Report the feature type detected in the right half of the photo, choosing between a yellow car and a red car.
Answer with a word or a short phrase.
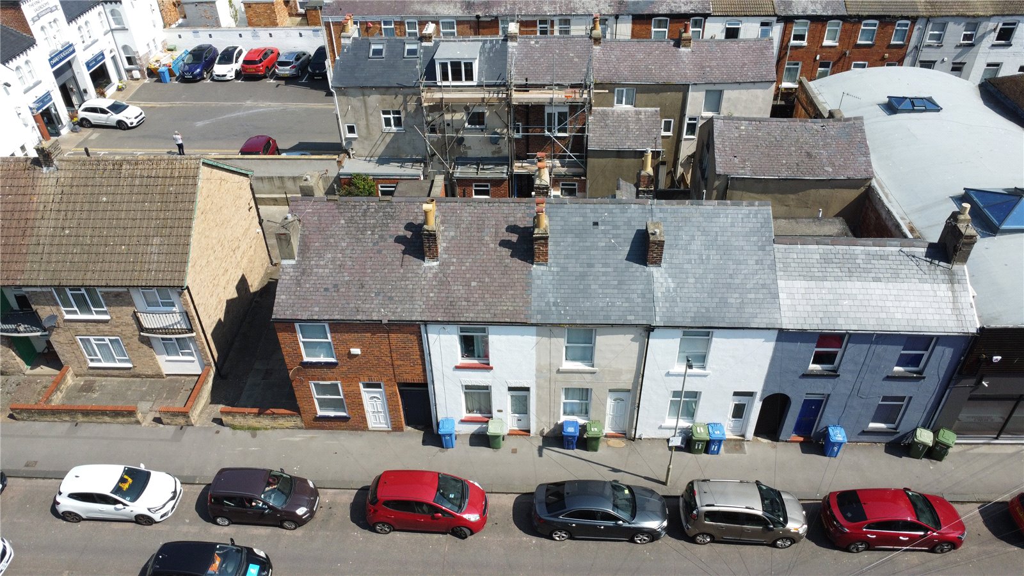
red car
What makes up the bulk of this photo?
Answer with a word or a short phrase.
buildings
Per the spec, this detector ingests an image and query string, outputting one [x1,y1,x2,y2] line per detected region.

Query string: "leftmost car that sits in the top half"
[76,97,144,130]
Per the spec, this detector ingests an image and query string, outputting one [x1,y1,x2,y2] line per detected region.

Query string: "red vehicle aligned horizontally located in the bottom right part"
[824,484,977,554]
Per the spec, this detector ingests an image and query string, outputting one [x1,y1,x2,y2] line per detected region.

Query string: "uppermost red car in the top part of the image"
[244,48,281,77]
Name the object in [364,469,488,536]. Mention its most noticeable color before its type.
red car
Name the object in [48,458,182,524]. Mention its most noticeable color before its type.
white car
